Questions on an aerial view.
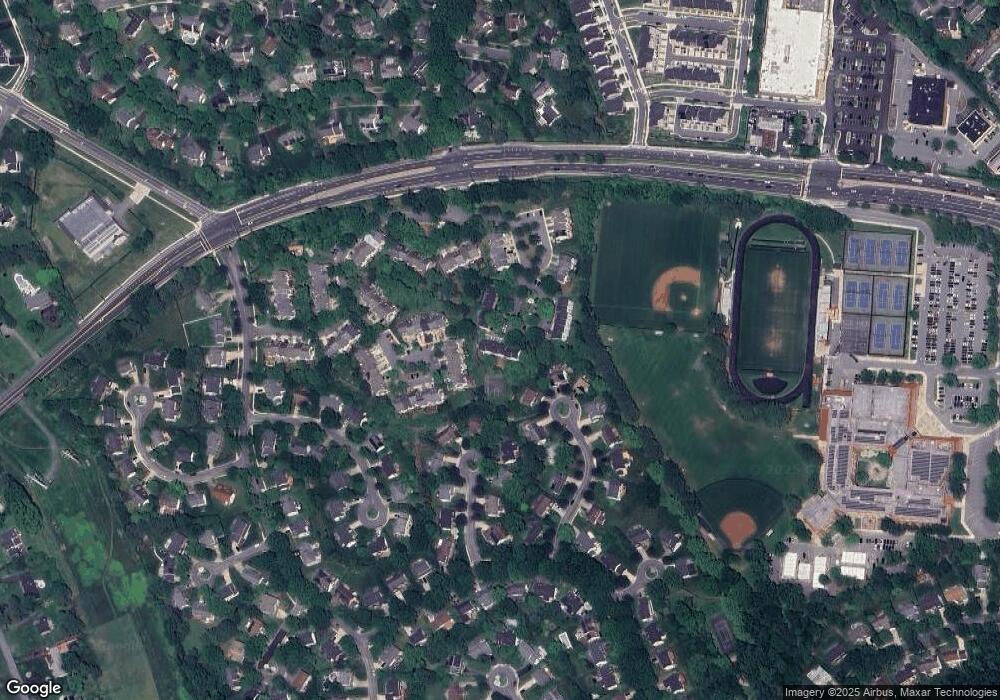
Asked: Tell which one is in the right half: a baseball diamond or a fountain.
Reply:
baseball diamond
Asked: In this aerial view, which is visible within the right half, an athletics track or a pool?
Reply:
athletics track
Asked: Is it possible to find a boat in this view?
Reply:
No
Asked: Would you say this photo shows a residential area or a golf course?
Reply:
residential area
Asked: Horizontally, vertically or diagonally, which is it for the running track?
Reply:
vertically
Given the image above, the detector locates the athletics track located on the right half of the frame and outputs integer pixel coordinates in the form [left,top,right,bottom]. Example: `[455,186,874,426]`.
[730,215,819,404]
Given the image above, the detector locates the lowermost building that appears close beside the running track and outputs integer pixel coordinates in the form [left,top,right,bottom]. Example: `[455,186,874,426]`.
[802,382,964,533]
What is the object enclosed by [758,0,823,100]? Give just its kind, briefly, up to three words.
building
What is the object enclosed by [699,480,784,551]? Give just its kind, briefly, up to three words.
baseball field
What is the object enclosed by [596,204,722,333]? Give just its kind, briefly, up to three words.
baseball field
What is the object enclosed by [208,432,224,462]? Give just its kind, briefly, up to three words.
house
